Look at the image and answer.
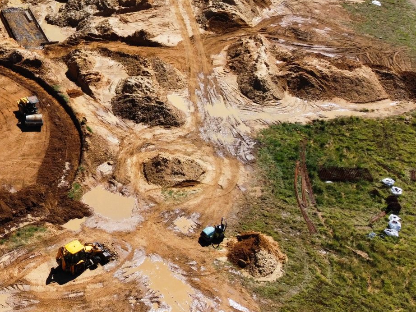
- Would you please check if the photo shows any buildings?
No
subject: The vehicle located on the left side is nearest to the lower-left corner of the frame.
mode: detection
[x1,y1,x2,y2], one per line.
[55,235,129,280]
